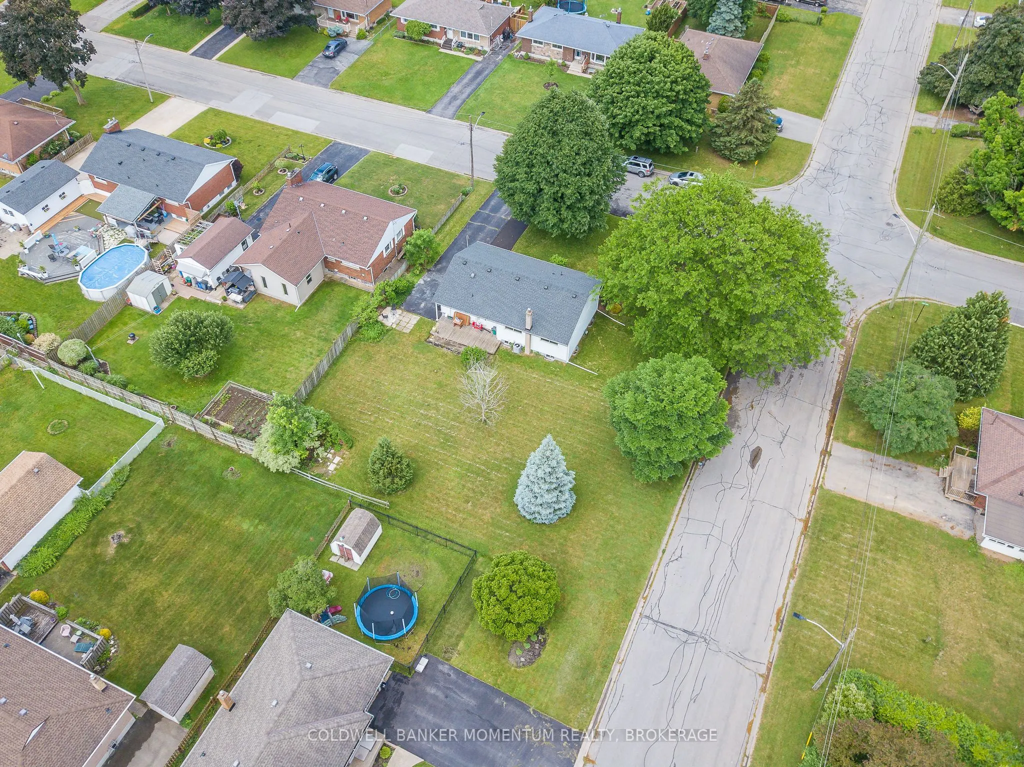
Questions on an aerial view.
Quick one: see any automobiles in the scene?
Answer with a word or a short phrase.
Yes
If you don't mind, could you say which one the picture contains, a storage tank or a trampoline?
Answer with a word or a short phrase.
trampoline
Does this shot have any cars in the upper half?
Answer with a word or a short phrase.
Yes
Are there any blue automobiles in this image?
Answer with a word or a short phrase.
Yes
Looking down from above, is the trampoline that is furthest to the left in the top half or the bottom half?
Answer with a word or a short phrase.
bottom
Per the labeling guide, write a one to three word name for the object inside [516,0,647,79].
house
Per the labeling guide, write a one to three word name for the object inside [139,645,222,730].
building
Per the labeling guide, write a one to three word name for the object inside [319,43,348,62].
car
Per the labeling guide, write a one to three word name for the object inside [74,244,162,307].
swimming pool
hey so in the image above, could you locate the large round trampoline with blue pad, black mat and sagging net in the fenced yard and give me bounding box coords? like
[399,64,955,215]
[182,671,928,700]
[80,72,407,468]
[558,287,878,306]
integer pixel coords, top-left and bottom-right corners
[352,570,419,646]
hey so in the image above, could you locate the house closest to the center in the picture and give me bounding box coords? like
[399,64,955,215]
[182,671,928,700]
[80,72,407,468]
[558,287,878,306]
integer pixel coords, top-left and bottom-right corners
[436,244,621,374]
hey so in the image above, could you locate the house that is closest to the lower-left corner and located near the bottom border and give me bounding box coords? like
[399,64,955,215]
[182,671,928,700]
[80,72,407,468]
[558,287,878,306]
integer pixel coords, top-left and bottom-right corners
[0,623,138,767]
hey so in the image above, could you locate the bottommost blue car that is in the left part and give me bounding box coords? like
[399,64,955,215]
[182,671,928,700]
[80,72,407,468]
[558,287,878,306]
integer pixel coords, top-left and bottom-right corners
[307,158,340,183]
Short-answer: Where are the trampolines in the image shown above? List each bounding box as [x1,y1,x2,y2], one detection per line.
[557,0,587,13]
[352,570,419,646]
